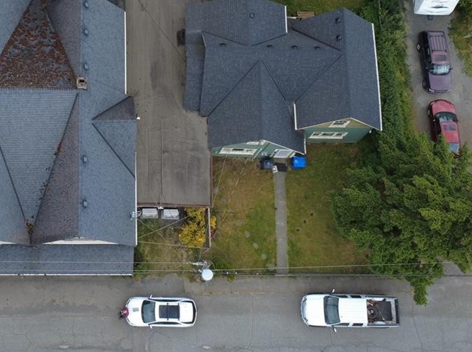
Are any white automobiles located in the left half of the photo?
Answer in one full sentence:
Yes, you'll find a white automobile in the left half of the photo.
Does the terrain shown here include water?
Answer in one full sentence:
No, no water is visible.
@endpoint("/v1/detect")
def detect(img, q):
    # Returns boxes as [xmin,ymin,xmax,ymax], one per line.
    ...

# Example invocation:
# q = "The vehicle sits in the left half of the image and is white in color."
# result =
[124,294,197,332]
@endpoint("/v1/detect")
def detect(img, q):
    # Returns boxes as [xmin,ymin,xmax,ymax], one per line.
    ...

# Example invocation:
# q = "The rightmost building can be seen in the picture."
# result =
[185,0,384,166]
